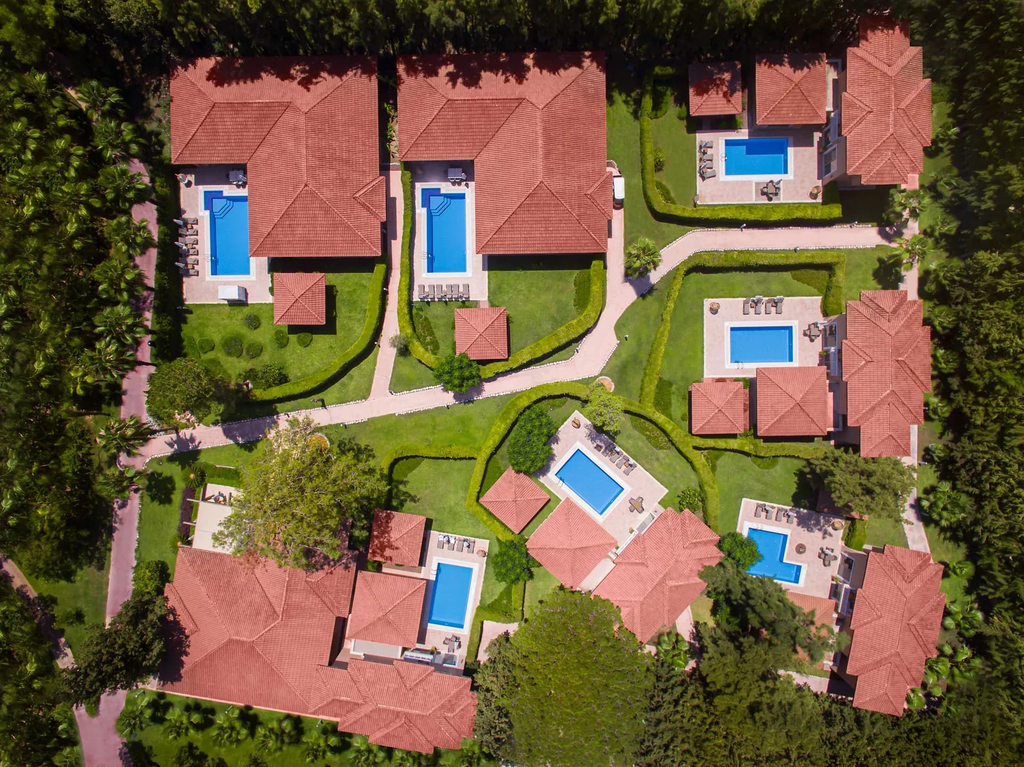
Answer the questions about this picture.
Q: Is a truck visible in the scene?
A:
No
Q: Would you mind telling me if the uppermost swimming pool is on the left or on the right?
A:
right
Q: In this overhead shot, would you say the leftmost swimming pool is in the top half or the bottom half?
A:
top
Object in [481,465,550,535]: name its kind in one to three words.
building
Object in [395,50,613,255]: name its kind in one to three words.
house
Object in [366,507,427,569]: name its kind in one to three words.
building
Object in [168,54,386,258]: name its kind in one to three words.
house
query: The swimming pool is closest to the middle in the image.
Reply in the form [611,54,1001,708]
[549,442,631,522]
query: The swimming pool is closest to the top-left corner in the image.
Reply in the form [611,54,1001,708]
[199,185,256,281]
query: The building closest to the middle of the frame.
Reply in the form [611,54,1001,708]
[454,307,508,360]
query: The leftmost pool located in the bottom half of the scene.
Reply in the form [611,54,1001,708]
[423,557,479,635]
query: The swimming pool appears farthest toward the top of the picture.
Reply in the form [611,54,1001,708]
[720,132,794,180]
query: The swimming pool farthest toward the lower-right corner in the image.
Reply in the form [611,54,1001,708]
[740,522,808,590]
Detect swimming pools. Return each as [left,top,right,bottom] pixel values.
[416,183,471,278]
[720,132,794,180]
[549,442,631,522]
[423,557,479,635]
[725,321,798,368]
[199,185,256,281]
[740,522,808,590]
